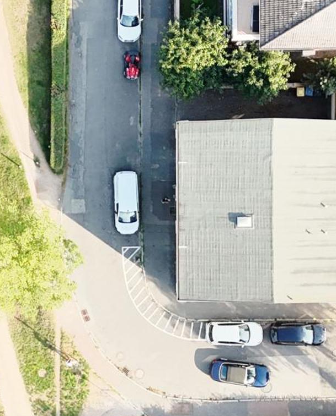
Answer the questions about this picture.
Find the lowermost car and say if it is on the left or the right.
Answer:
right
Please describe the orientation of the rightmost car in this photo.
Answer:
from side to side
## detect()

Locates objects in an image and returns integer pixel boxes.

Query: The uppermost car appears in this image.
[115,0,144,42]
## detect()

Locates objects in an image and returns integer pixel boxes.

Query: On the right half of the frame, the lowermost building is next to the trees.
[172,119,336,304]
